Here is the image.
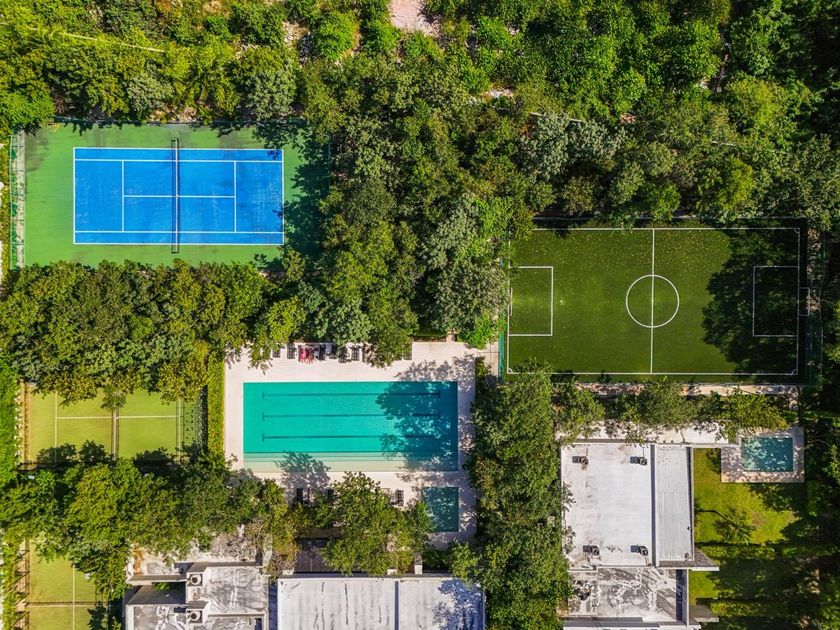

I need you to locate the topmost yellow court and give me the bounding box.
[27,372,198,474]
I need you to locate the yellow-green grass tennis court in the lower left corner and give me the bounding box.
[27,530,105,630]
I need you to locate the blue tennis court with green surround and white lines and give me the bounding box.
[25,121,329,271]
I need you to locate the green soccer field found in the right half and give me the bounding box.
[503,222,807,381]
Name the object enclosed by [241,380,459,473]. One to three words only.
swimming pool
